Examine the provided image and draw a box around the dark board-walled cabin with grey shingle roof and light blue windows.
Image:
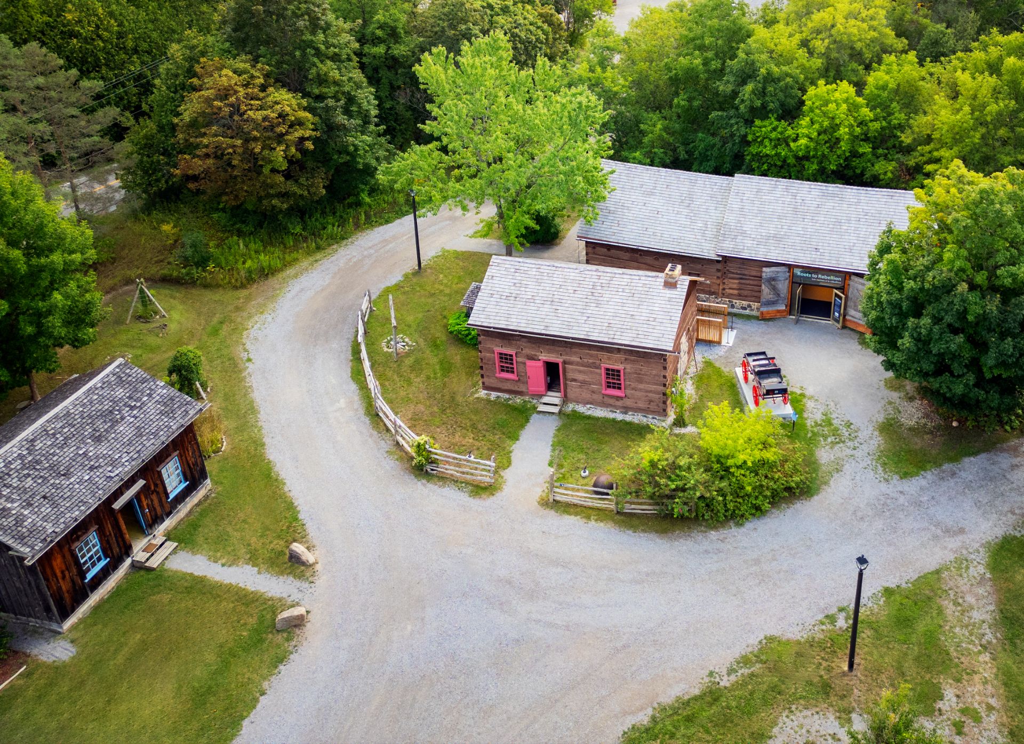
[0,356,215,633]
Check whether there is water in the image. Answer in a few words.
No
